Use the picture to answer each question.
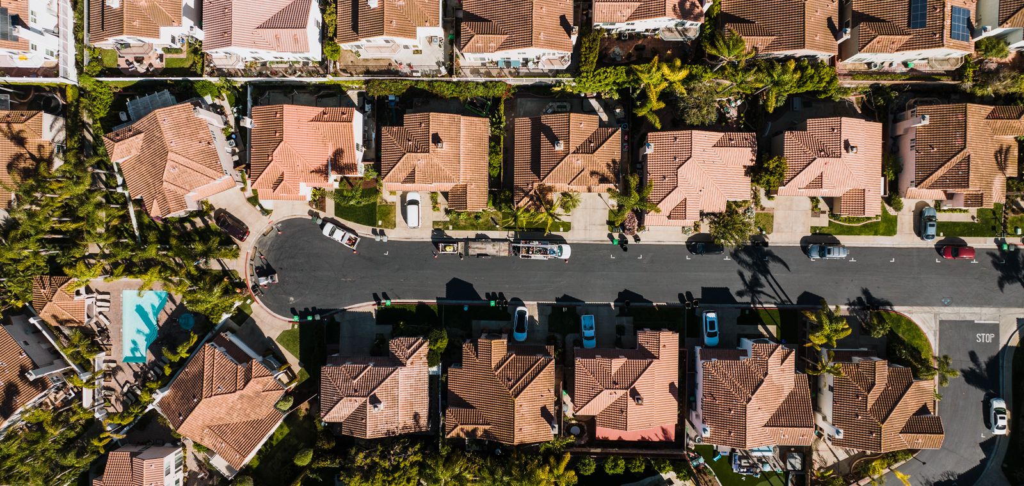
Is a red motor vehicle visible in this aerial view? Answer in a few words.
Yes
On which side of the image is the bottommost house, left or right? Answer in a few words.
left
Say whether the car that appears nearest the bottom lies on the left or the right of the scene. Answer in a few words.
right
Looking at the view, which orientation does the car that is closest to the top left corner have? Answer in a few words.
at an angle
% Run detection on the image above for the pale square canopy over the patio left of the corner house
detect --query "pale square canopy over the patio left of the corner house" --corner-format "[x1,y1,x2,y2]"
[781,448,803,471]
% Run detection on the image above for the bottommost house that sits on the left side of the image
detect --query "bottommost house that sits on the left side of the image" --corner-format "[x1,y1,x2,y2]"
[93,443,183,486]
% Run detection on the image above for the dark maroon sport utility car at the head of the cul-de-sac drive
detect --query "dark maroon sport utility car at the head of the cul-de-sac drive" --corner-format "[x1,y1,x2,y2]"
[214,212,250,243]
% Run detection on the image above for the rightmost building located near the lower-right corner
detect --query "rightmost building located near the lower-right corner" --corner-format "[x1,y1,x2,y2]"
[816,350,950,451]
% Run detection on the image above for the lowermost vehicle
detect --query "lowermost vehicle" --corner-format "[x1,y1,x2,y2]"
[989,397,1010,435]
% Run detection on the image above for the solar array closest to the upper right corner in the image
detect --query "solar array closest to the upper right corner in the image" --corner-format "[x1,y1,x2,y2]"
[953,6,971,41]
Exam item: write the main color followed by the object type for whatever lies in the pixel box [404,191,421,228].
white vehicle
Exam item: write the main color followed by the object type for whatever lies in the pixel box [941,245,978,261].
red car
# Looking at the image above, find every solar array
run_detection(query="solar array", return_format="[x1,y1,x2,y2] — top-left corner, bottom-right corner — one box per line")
[953,6,971,41]
[912,0,927,28]
[0,8,7,40]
